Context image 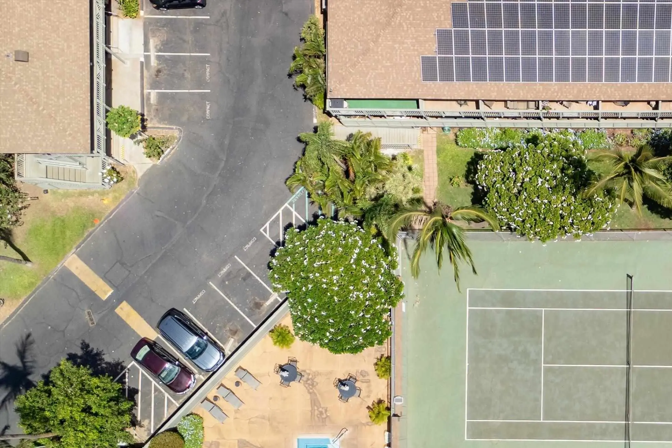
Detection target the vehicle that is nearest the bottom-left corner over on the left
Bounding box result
[124,336,192,393]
